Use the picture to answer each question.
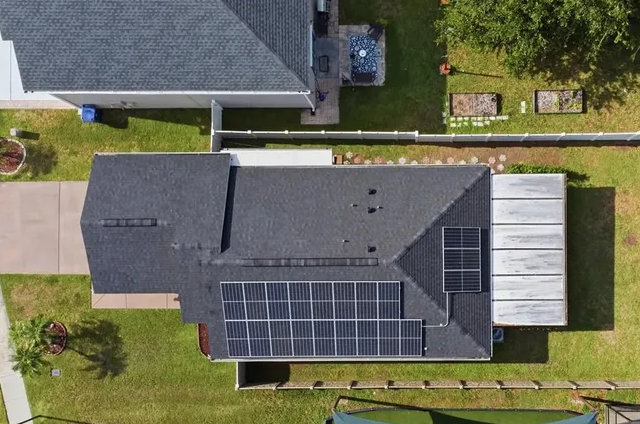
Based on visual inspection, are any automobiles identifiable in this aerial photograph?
No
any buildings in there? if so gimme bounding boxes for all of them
[79,151,494,364]
[0,0,317,118]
